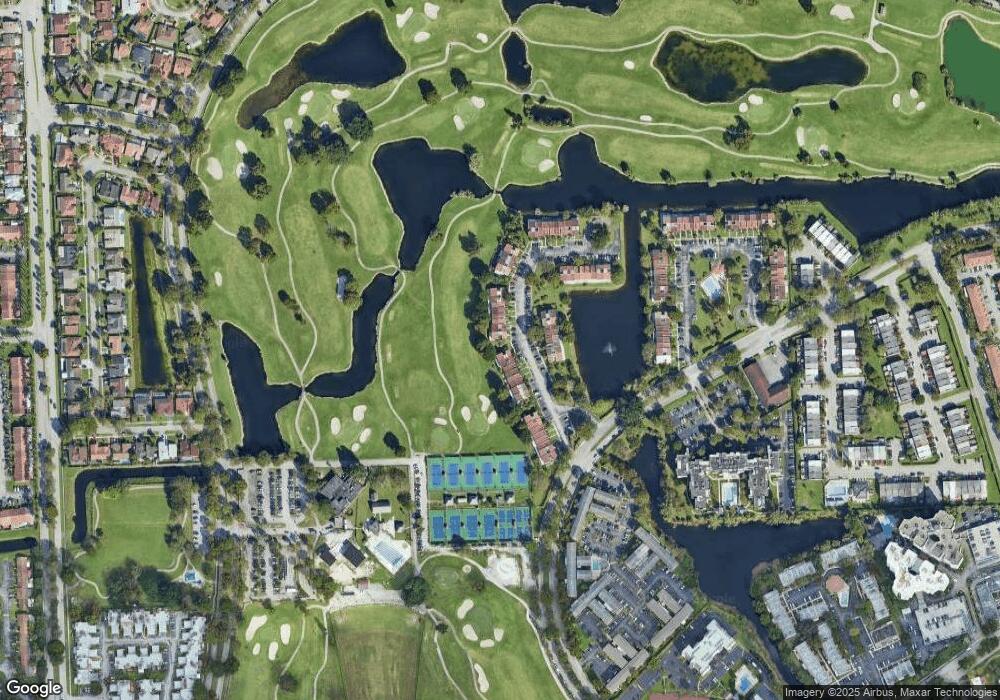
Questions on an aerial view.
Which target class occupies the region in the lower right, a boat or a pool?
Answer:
pool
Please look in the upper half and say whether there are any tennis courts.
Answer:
No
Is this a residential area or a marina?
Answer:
residential area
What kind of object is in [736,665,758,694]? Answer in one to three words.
swimming pool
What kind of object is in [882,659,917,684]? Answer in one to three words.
building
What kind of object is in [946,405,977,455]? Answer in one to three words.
house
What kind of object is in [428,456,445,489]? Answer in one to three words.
tennis court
